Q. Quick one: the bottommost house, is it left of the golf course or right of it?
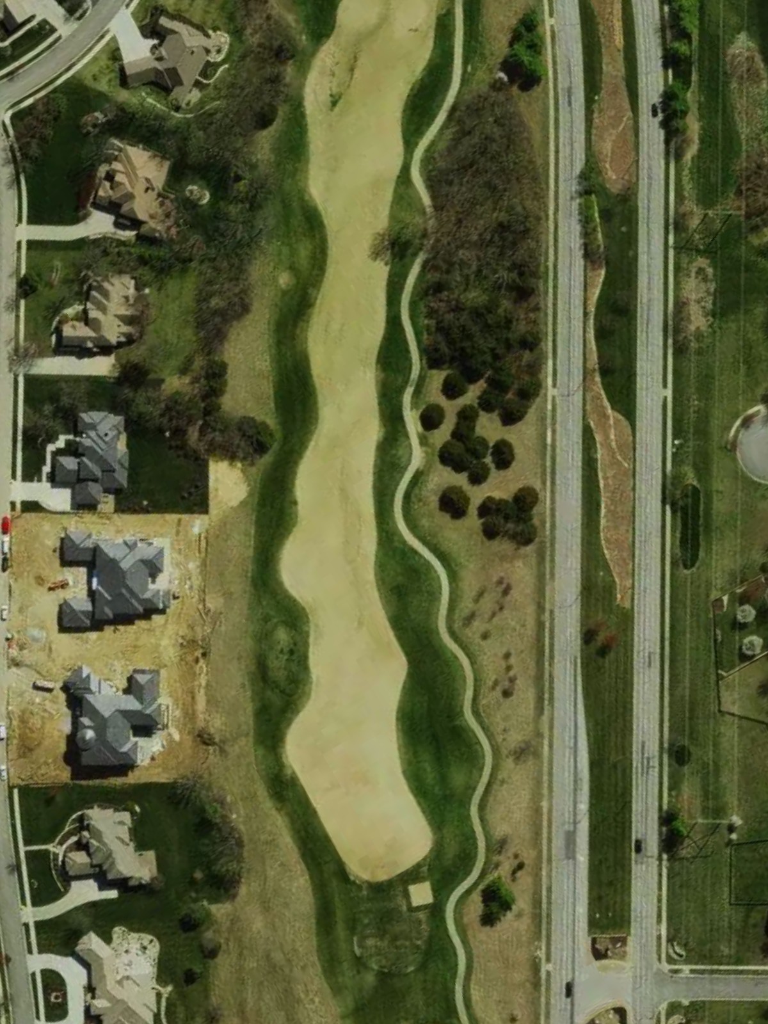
on its left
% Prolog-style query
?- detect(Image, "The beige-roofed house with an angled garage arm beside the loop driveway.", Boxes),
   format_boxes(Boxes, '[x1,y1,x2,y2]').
[74,929,159,1024]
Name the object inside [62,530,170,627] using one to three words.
house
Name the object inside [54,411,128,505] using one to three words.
house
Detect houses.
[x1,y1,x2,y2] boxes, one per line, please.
[95,142,172,236]
[54,411,128,505]
[63,809,158,886]
[62,664,161,767]
[62,530,170,627]
[0,0,17,34]
[74,929,159,1024]
[123,12,216,108]
[59,274,140,346]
